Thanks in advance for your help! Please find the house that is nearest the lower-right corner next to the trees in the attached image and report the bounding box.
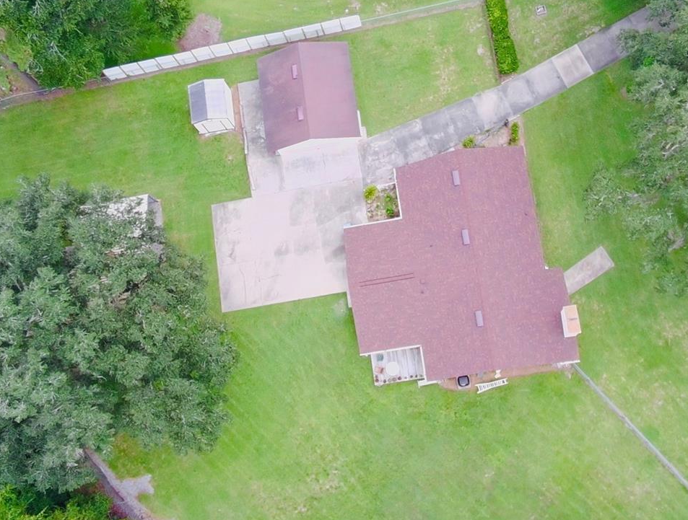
[344,148,581,384]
